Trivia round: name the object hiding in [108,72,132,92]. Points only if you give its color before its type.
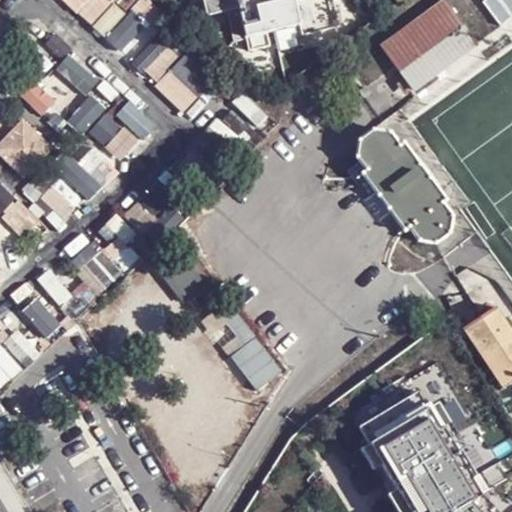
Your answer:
white vehicle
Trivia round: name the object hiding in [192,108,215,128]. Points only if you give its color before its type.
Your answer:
white vehicle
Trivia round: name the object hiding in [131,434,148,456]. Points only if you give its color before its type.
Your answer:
white car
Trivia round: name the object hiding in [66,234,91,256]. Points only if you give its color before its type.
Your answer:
white camper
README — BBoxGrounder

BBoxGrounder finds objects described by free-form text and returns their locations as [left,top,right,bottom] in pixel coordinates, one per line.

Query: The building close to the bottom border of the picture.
[358,364,508,512]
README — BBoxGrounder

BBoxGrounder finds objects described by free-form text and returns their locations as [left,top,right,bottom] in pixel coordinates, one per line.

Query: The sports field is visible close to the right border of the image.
[410,50,512,280]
